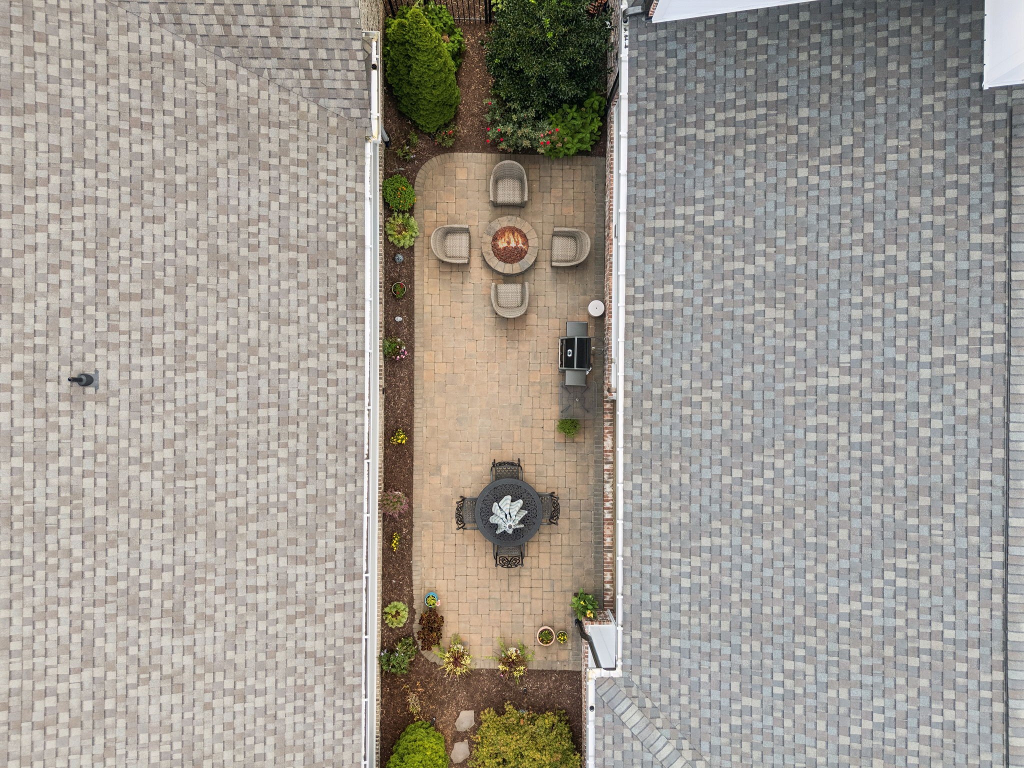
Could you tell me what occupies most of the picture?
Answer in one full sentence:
What you mostly see from above here is buildings.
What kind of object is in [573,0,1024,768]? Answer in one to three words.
house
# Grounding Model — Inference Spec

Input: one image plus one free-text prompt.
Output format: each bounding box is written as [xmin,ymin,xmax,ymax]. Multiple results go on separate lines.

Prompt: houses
[0,0,390,768]
[573,0,1024,768]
